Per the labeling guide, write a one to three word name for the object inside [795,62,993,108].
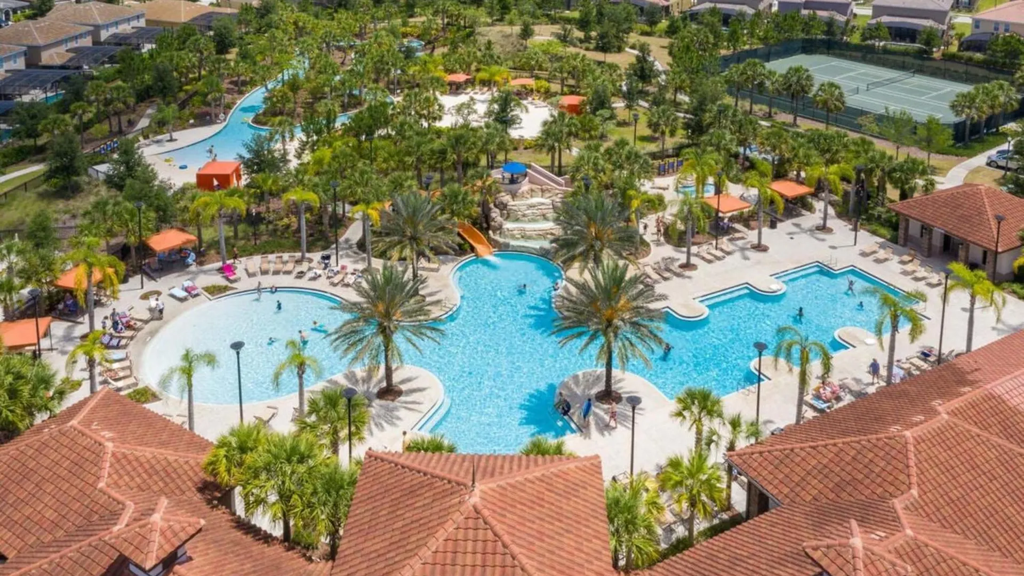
tennis court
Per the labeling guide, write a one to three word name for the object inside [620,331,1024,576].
building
